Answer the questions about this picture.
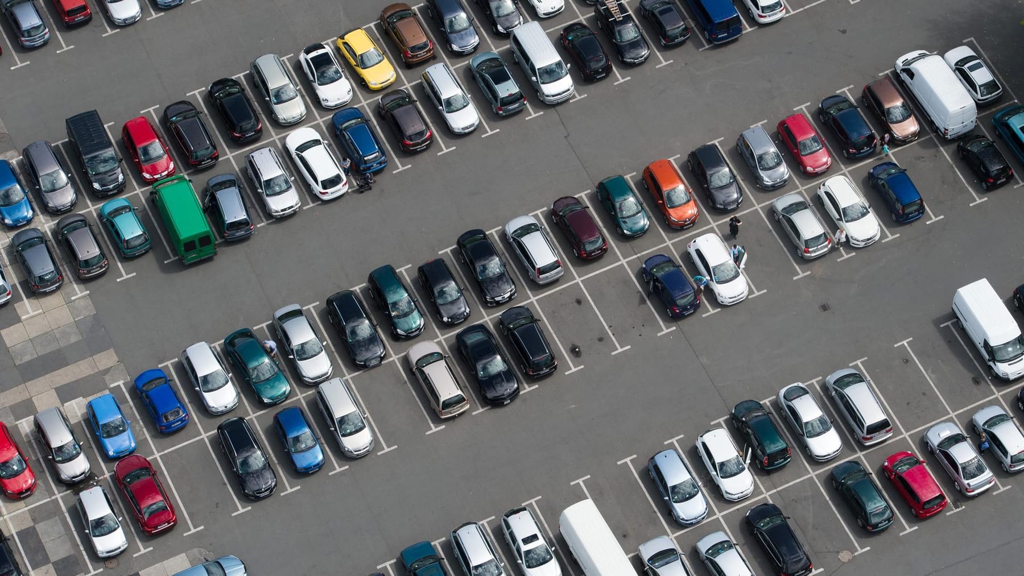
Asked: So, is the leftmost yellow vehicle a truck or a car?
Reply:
car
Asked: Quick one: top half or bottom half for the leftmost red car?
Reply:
bottom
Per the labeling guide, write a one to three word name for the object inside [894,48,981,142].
van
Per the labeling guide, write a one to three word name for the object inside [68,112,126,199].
van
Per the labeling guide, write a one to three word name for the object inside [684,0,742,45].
vehicle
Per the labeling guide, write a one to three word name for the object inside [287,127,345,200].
car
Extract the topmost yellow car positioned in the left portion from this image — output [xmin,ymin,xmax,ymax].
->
[338,29,395,93]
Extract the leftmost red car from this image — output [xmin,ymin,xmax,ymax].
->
[0,427,33,501]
